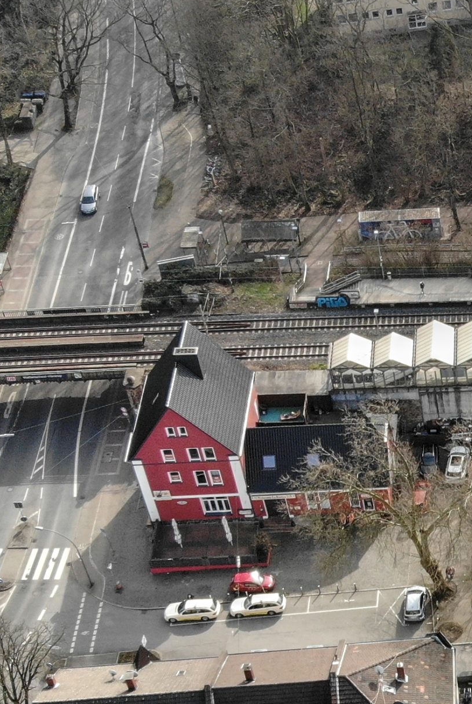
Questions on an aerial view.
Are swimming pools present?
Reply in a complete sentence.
No, no swimming pool can be seen from above.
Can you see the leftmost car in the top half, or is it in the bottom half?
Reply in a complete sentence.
The leftmost car sits in the top half of the picture.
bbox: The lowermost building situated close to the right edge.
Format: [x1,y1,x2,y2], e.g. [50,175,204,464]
[333,627,464,704]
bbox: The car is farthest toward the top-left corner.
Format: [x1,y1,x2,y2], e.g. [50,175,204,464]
[78,187,101,215]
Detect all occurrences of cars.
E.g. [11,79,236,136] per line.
[167,598,224,625]
[78,187,101,215]
[419,444,441,478]
[447,445,471,478]
[230,590,287,617]
[404,580,429,622]
[229,570,274,593]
